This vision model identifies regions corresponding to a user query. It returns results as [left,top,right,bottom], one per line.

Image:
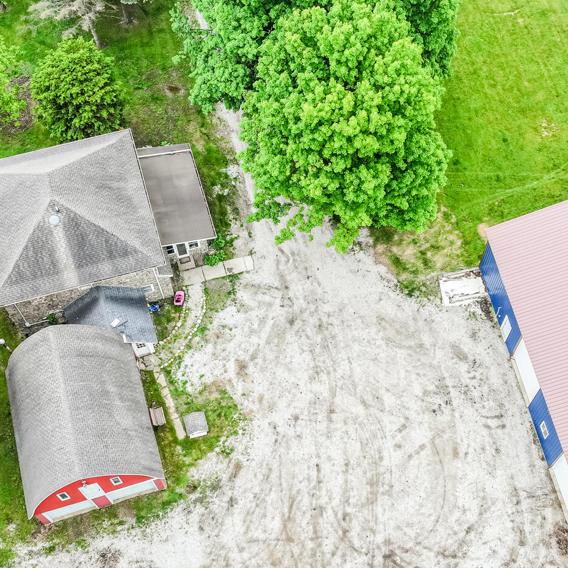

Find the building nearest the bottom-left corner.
[4,322,166,523]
